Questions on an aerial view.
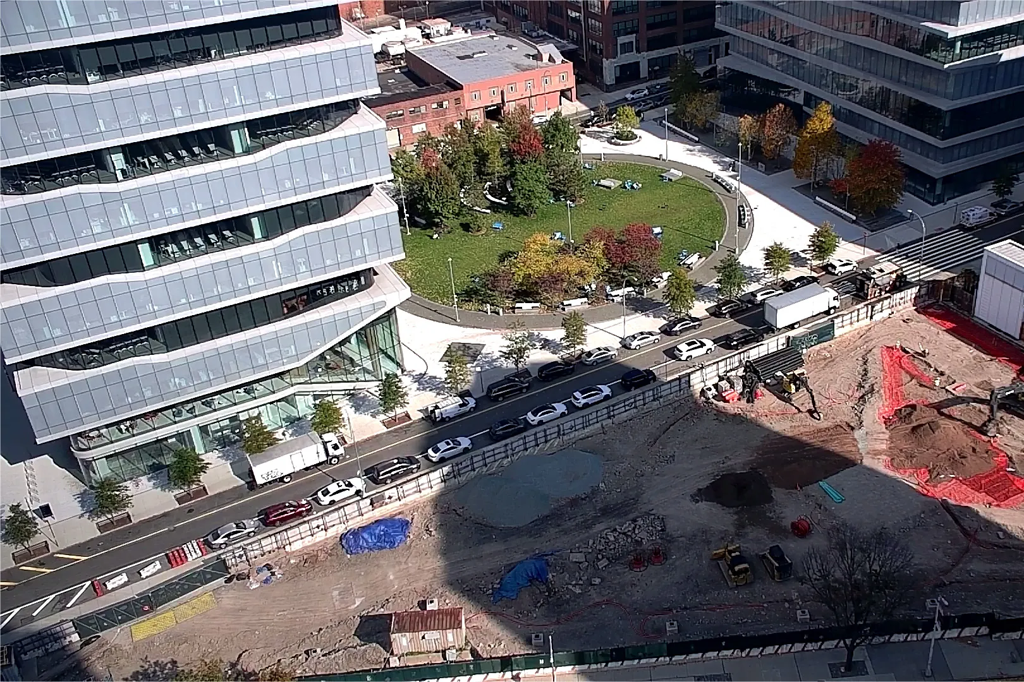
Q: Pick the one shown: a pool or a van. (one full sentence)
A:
Visible in the photo is a van.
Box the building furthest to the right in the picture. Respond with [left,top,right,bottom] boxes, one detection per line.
[974,240,1024,340]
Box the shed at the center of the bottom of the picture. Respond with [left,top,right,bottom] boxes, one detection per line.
[381,598,463,661]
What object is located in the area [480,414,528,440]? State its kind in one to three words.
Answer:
car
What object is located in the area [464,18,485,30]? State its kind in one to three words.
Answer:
vehicle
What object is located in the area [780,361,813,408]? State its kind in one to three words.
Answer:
work vehicle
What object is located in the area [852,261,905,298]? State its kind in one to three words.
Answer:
truck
